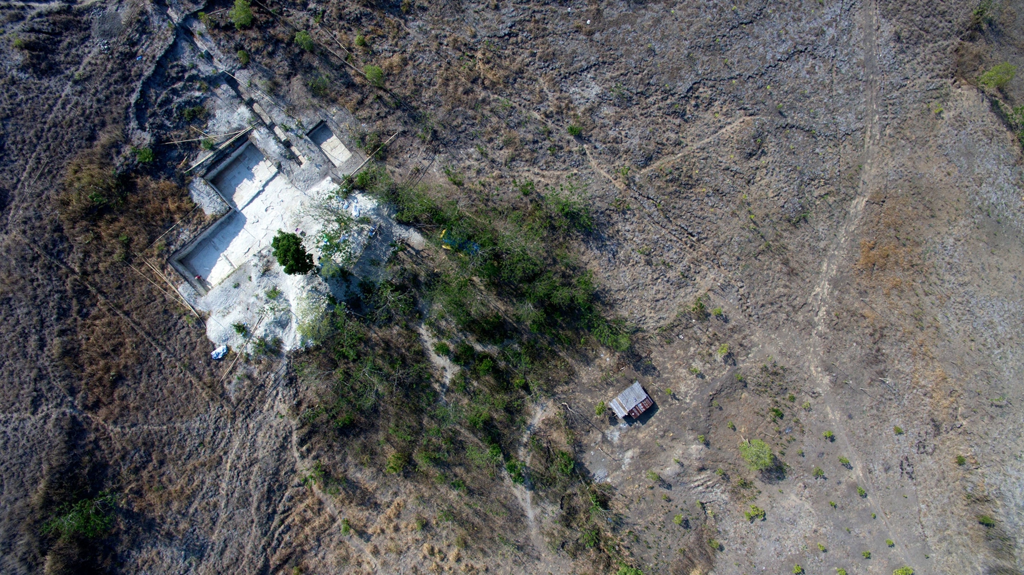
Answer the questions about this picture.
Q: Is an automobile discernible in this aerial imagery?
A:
No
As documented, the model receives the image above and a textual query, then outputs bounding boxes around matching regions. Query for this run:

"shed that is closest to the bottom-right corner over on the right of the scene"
[608,379,653,419]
